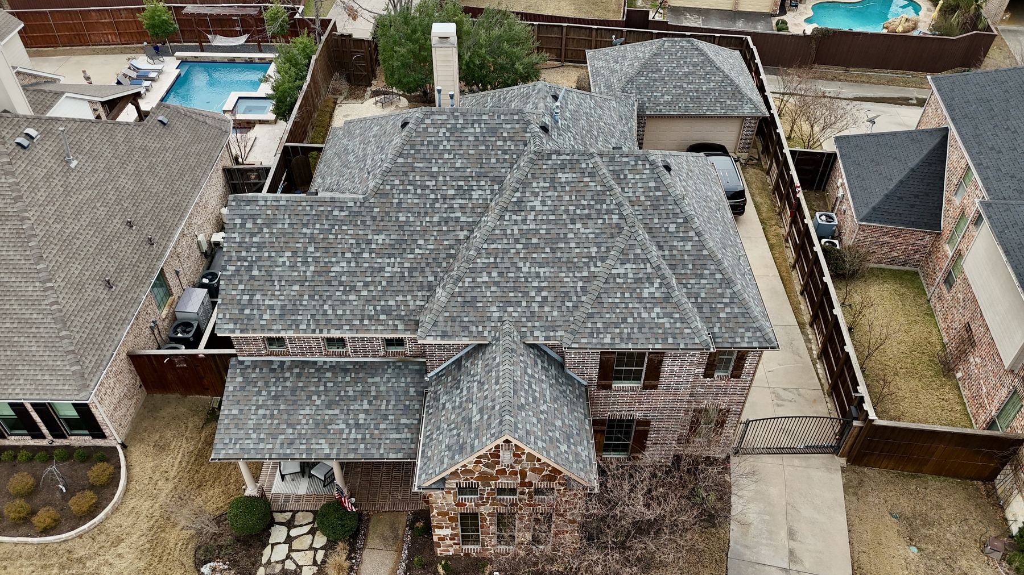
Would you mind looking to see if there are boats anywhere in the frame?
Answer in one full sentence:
No, there's no boat here.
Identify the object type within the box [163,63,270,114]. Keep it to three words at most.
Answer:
swimming pool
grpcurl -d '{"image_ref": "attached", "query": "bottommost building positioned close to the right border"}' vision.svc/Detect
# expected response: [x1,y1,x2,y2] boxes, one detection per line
[831,67,1024,509]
